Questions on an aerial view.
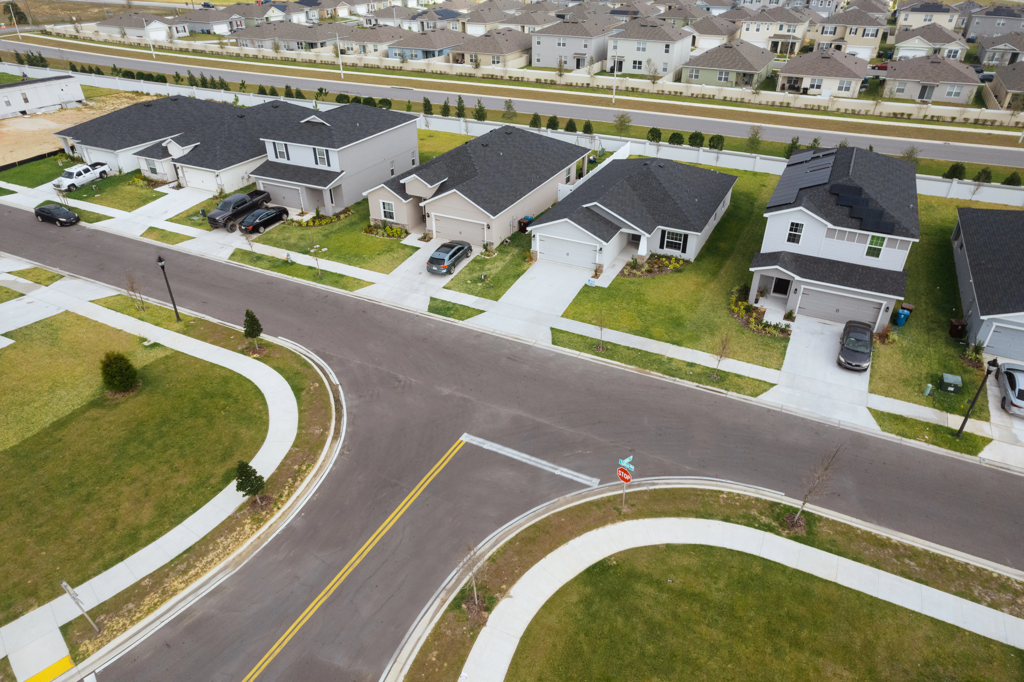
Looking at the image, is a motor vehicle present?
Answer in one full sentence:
Yes, looking at the shot, I can spot a motor vehicle.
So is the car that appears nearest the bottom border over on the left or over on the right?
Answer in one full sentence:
The car that appears nearest the bottom border appears in the right half of the scene.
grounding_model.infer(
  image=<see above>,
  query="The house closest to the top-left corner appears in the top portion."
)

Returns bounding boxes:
[96,12,186,38]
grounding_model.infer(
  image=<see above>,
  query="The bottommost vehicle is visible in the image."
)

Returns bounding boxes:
[995,360,1024,416]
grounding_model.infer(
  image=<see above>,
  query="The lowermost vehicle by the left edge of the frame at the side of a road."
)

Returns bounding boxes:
[32,204,79,228]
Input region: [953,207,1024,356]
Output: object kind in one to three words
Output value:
house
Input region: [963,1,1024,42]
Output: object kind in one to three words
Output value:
house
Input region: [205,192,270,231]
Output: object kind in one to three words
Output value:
truck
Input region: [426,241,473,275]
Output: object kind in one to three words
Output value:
car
